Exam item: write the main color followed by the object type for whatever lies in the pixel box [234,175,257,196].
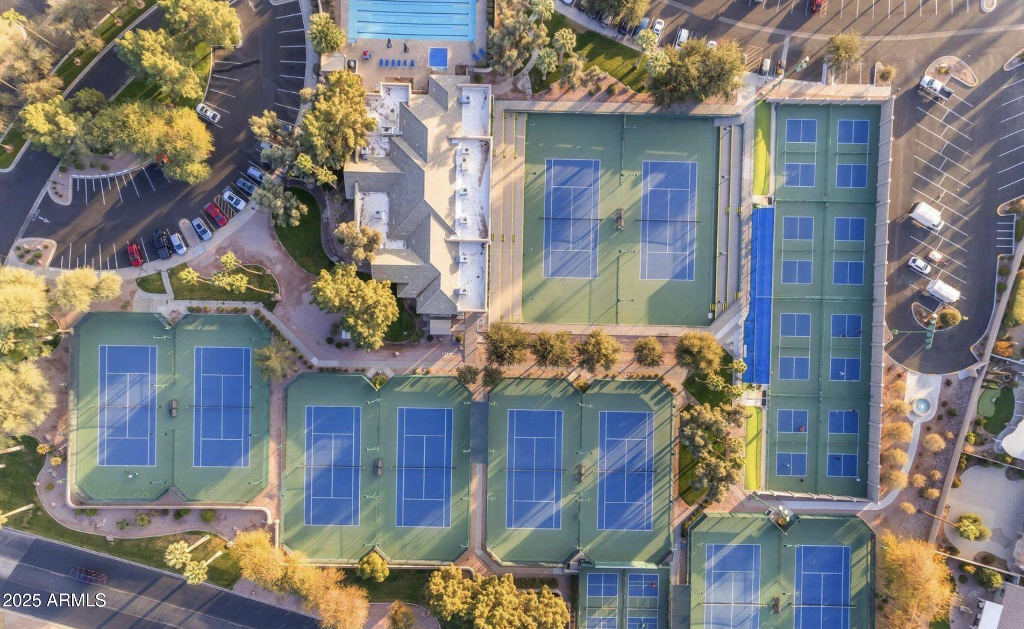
blue car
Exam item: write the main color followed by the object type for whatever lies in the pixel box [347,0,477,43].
blue swimming pool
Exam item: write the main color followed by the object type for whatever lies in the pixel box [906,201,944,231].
white truck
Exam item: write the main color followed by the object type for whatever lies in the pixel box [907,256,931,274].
white car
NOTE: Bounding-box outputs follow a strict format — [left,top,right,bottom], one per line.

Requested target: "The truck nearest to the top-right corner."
[920,78,953,100]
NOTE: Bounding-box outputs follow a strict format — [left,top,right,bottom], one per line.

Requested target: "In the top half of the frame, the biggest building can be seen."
[343,75,493,314]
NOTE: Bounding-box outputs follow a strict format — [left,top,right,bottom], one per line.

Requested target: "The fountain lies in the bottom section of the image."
[911,396,932,418]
